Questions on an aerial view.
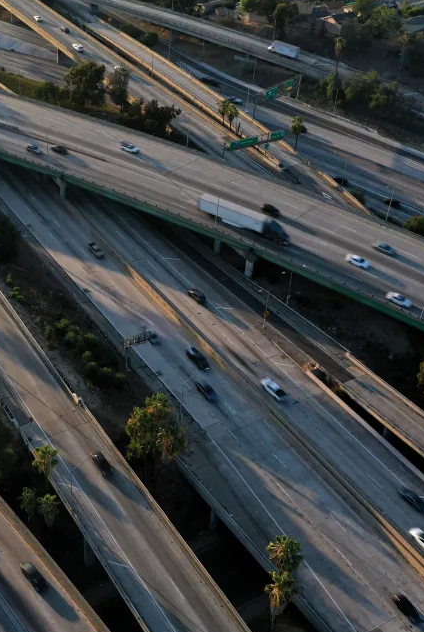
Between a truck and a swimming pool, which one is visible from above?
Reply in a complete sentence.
This aerial view contains a truck.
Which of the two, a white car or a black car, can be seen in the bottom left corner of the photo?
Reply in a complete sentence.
It is a black car that can be seen in the bottom left corner of the photo.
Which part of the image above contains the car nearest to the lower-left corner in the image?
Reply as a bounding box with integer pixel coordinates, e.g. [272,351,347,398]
[17,555,51,596]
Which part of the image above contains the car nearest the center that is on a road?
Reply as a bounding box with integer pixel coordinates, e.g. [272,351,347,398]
[186,287,207,304]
